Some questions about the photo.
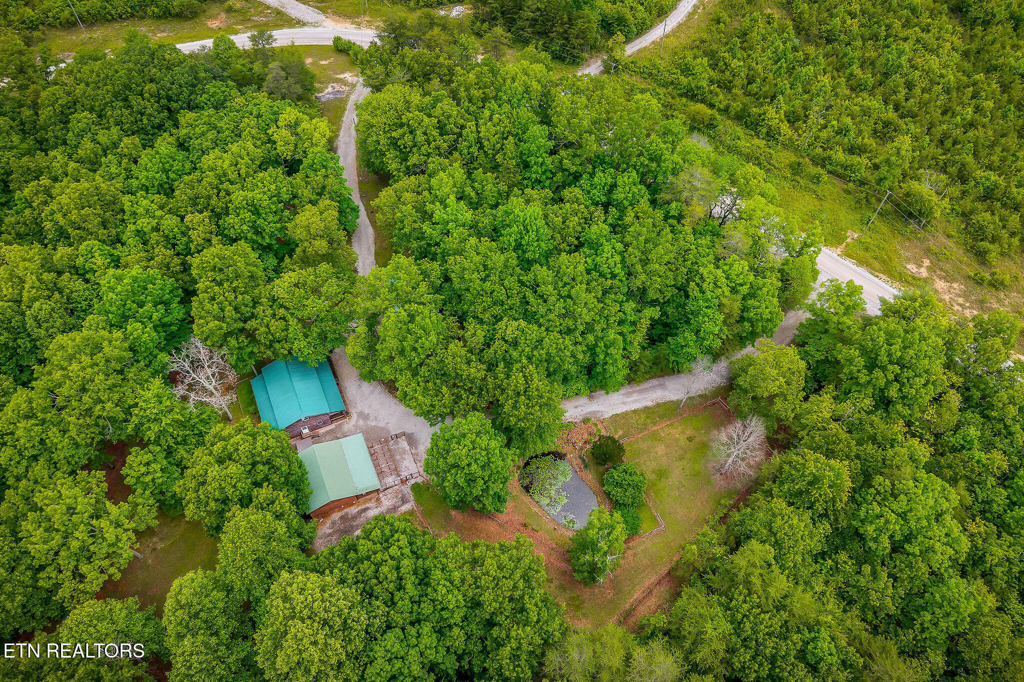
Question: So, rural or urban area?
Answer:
rural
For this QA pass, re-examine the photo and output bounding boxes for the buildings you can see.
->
[251,353,348,440]
[295,433,381,518]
